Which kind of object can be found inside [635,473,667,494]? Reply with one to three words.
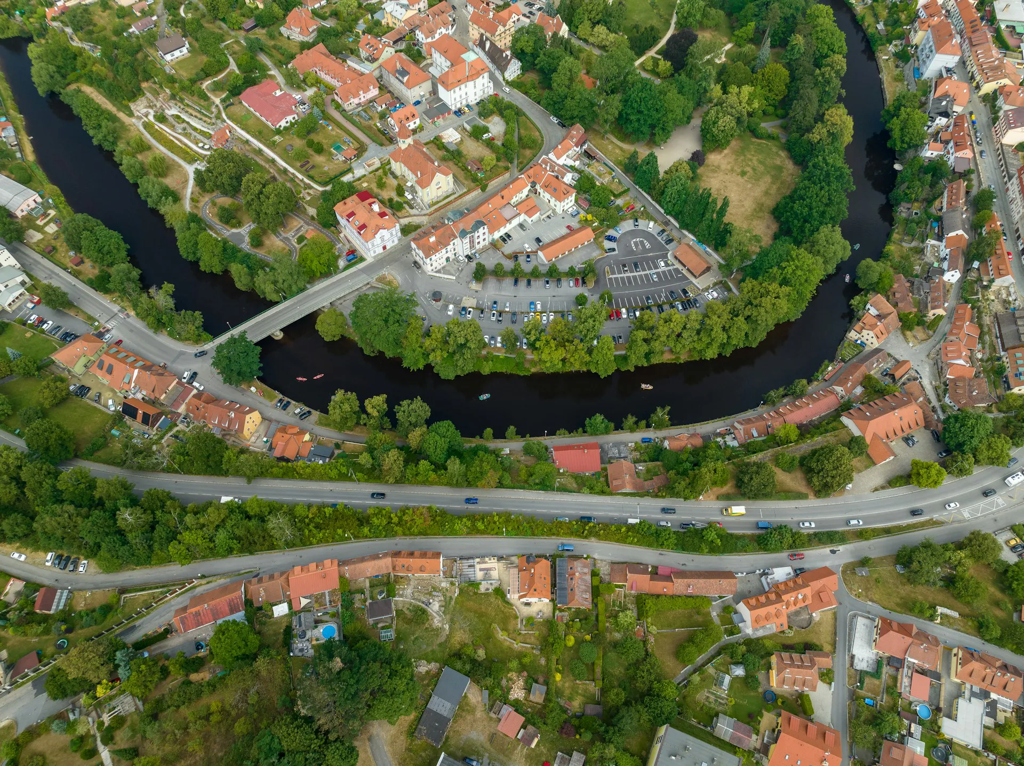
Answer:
shed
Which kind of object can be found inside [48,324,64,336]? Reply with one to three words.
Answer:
vehicle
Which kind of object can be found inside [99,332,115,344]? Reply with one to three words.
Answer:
vehicle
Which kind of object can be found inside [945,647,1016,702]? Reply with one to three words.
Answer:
house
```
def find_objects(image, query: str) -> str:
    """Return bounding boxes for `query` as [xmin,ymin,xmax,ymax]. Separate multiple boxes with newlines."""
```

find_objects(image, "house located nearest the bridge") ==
[334,191,400,260]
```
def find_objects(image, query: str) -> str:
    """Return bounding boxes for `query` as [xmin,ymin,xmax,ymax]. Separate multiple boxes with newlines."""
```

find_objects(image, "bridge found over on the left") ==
[200,257,383,367]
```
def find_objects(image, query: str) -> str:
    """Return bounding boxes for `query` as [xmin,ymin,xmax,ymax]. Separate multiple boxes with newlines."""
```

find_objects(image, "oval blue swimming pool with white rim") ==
[915,702,933,722]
